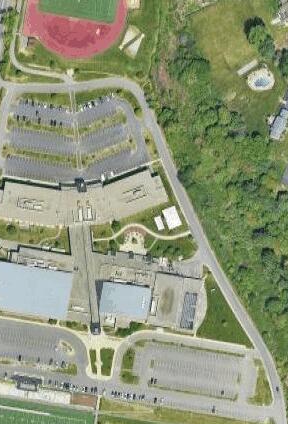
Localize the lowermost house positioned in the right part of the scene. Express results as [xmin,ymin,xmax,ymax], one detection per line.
[270,108,288,139]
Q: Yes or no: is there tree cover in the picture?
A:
Yes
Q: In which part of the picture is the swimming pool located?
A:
top right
